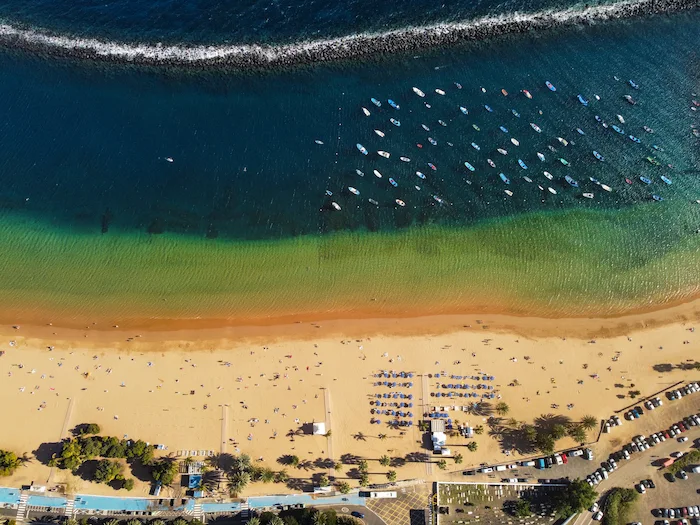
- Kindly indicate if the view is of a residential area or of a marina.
marina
